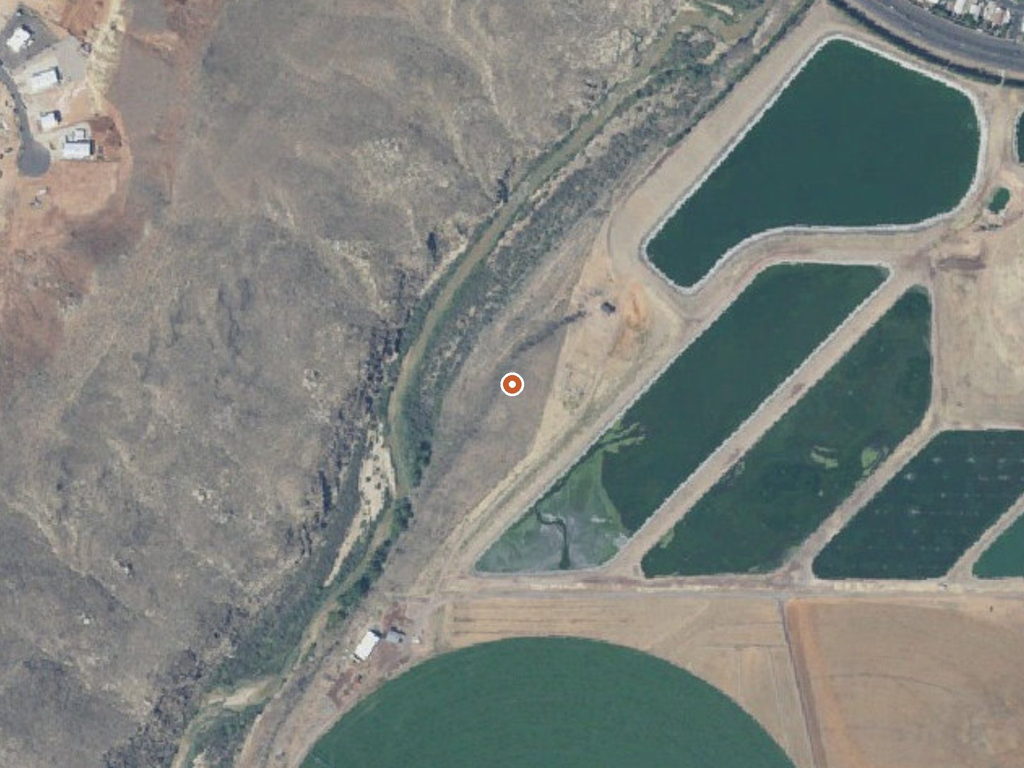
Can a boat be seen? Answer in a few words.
No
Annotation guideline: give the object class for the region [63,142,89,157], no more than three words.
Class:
house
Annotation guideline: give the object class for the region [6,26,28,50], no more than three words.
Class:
house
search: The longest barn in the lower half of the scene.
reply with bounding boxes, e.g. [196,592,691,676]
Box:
[355,632,379,661]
